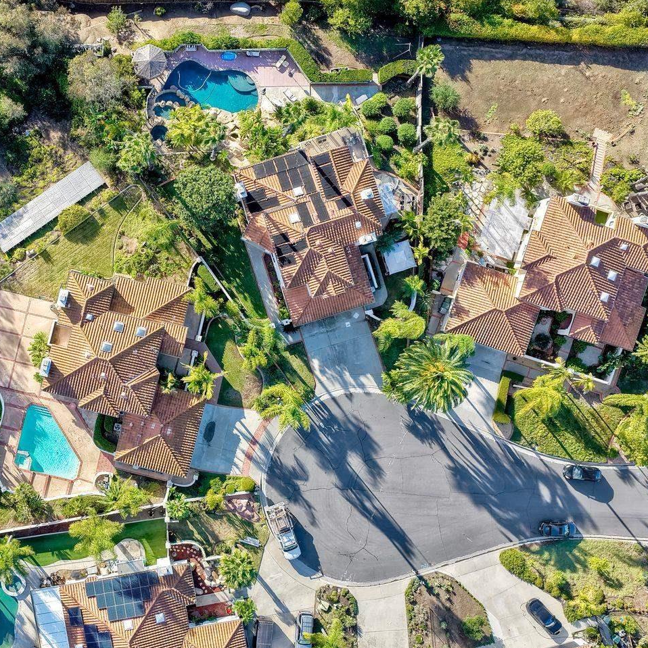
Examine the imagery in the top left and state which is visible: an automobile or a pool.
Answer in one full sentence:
It is a pool that can be seen in the top left.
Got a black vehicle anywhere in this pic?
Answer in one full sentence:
Yes, a black vehicle can be made out from above.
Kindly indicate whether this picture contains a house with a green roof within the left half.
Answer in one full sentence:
No, I see no house with a green roof within the left half.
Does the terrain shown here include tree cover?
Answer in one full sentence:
Yes, tree cover can be seen from above here.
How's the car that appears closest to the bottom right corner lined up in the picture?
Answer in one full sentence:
The car that appears closest to the bottom right corner has been laid out on a diagonal relative to the frame.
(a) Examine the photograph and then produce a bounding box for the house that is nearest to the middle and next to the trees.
[228,119,390,327]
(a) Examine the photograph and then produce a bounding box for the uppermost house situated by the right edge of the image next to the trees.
[445,191,648,358]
